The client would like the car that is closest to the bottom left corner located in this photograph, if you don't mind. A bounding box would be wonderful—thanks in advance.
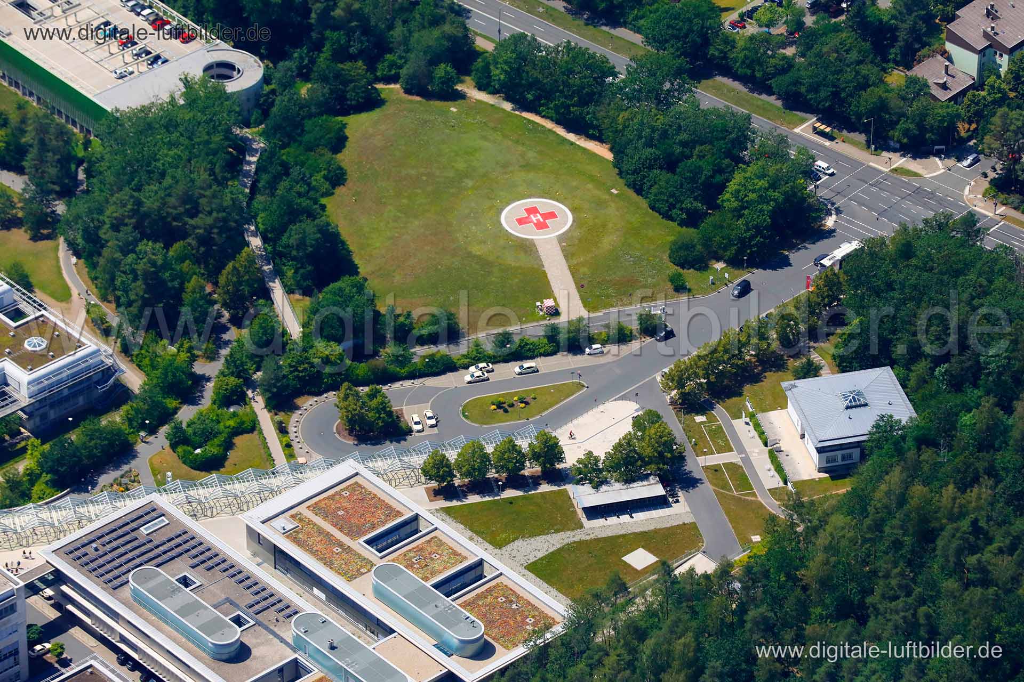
[30,644,51,659]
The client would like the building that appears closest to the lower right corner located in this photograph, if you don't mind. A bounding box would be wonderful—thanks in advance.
[781,366,925,463]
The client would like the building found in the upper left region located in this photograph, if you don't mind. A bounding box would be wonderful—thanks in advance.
[0,0,264,141]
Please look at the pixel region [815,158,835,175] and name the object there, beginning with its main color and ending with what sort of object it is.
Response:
white car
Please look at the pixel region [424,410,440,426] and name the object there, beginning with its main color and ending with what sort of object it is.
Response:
white car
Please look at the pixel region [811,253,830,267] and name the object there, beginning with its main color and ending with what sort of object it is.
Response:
blue car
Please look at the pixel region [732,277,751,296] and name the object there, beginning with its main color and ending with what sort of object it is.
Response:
black vehicle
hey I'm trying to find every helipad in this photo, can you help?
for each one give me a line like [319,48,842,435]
[500,198,573,238]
